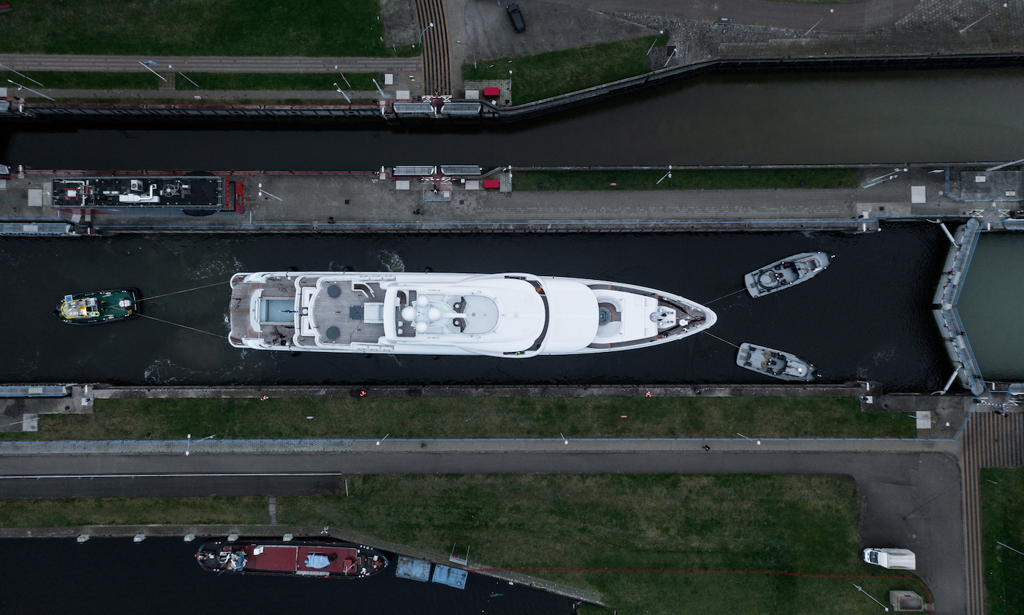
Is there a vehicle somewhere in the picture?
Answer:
Yes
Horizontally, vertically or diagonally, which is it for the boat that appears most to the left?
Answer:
horizontally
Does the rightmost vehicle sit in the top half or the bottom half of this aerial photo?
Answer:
bottom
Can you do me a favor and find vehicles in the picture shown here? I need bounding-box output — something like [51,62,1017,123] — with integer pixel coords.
[507,3,524,33]
[863,548,915,570]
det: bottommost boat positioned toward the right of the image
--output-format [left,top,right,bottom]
[736,342,820,382]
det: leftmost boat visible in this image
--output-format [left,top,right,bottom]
[53,287,147,324]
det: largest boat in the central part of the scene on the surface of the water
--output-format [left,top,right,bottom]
[229,271,718,358]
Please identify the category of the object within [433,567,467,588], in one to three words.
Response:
pier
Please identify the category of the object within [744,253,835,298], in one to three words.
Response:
boat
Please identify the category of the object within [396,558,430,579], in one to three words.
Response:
pier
